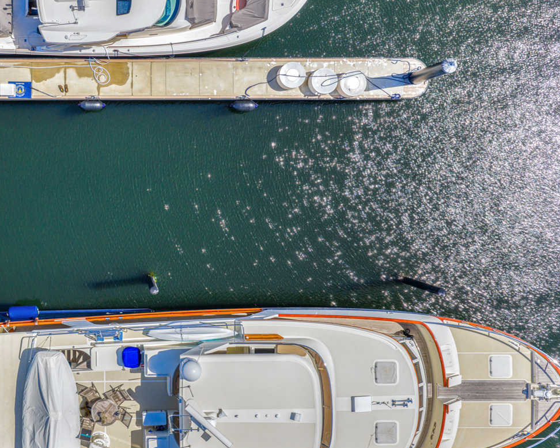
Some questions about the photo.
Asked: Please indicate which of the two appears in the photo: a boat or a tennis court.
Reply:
boat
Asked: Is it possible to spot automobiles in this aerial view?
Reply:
No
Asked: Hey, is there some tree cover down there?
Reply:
No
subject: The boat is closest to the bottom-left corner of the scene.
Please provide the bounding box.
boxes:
[22,339,82,448]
